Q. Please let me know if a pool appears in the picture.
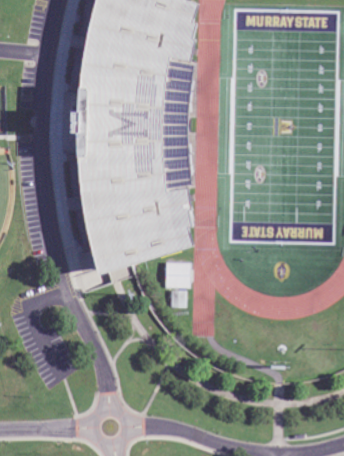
No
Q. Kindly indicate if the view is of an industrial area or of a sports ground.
sports ground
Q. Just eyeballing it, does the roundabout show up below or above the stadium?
below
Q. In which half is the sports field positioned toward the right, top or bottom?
top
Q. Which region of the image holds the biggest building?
center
